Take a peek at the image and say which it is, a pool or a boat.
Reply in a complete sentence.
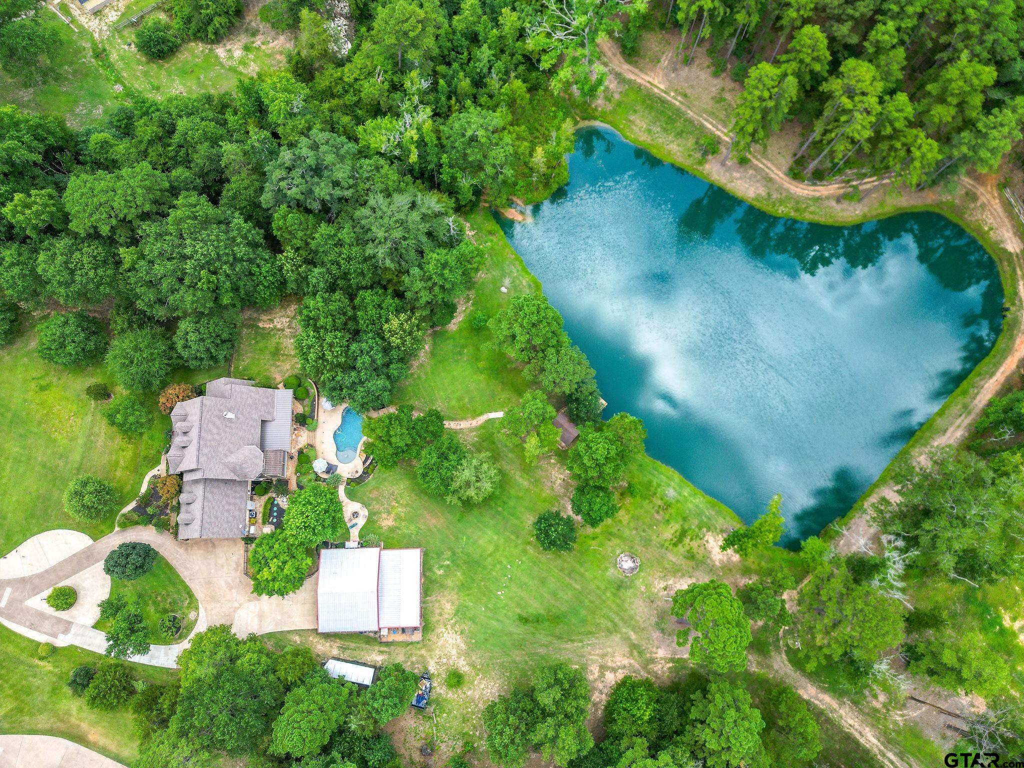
This aerial view contains a pool.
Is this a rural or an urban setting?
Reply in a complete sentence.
From above, the setting appears rural.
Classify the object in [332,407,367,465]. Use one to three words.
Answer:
swimming pool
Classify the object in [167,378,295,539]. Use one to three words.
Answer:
house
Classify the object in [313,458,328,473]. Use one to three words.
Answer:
umbrella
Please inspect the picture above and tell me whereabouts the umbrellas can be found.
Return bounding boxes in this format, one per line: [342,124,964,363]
[313,458,328,473]
[320,397,335,410]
